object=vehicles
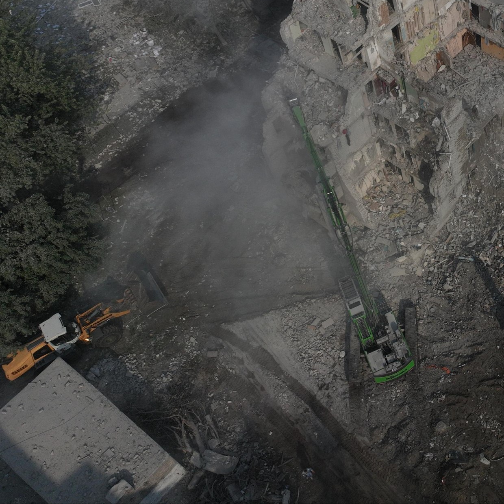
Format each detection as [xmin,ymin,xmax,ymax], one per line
[8,284,155,390]
[286,92,421,389]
